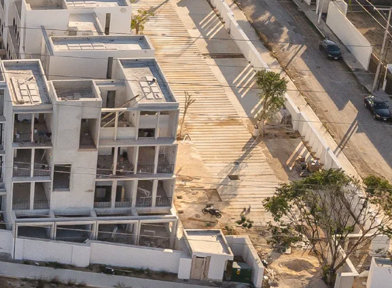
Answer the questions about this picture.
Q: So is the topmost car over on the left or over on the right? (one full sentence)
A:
The topmost car sits on the right side.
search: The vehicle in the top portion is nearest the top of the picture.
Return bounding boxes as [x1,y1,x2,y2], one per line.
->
[320,34,344,56]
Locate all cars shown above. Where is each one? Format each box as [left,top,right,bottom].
[320,34,344,56]
[367,92,392,116]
